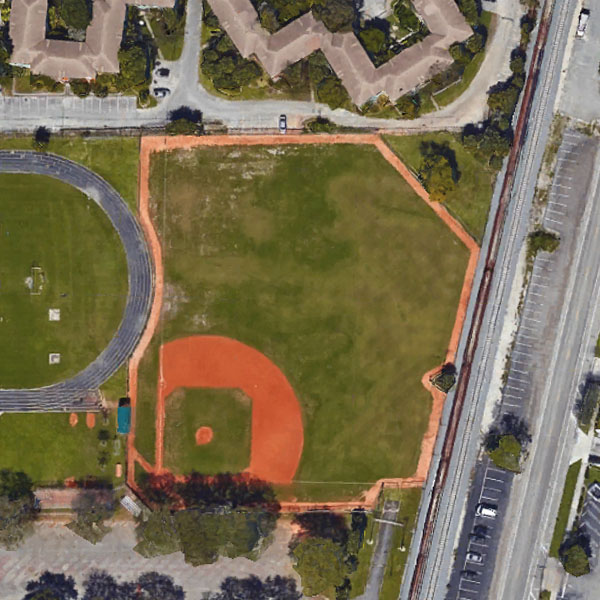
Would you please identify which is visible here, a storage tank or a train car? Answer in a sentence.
Visible in the photo is a train car.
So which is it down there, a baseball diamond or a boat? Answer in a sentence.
There is a baseball diamond in the scene.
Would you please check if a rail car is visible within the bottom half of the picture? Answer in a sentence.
Yes, a rail car appears within the bottom half of the picture.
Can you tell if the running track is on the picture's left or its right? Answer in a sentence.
It is on the left.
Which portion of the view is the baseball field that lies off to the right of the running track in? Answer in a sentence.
The baseball field that lies off to the right of the running track is located in the center region of the scene.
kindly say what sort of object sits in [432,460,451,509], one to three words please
rail car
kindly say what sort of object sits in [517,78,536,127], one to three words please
rail car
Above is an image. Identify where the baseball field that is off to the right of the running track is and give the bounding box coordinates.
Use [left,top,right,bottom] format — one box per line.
[127,134,481,513]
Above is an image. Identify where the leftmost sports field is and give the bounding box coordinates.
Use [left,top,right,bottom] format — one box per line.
[0,173,130,389]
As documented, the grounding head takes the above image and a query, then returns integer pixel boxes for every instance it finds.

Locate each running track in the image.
[0,151,152,412]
